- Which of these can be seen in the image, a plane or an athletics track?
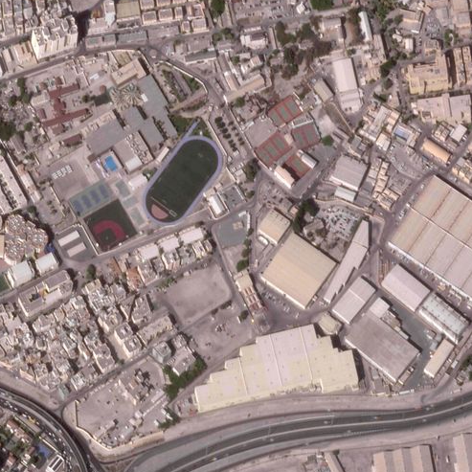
athletics track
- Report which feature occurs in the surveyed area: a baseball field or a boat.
baseball field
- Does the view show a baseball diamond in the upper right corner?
No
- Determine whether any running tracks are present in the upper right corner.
No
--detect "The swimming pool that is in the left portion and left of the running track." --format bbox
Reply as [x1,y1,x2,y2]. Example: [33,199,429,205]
[103,152,121,172]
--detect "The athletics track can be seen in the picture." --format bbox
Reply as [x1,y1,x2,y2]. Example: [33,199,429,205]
[144,122,223,223]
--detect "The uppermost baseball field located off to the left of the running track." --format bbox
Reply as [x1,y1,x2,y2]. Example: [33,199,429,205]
[74,198,137,254]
